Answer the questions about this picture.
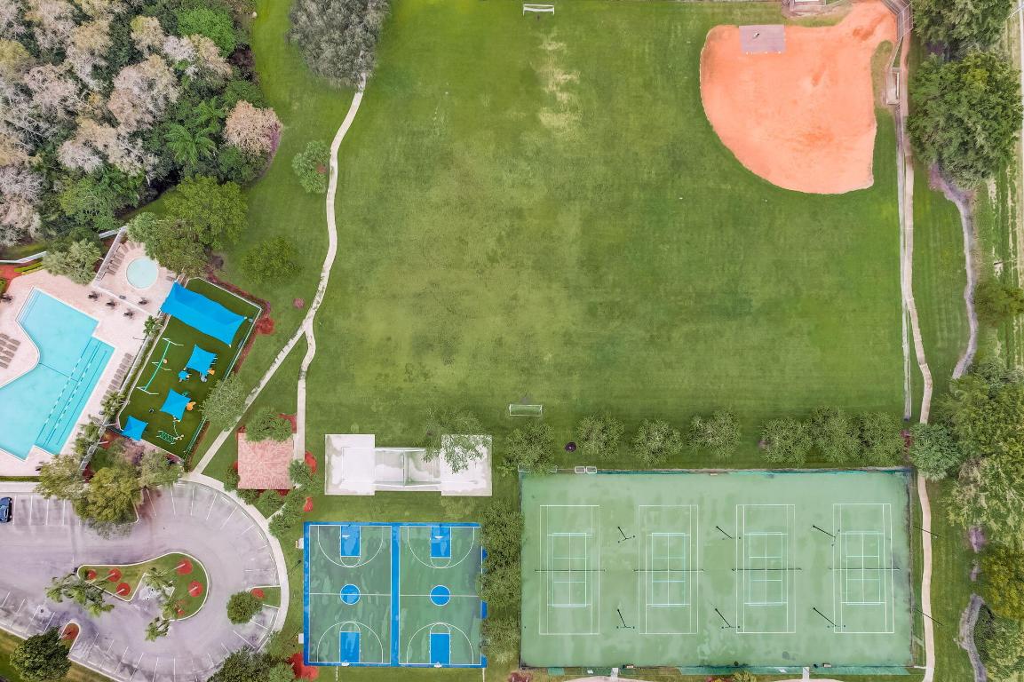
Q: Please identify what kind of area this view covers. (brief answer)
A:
sports ground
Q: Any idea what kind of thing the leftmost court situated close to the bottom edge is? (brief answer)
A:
basketball court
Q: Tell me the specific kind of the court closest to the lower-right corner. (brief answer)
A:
tennis court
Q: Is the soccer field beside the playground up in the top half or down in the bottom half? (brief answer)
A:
top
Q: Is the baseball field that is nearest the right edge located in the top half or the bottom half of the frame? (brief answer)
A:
top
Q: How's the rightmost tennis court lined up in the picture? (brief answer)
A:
from top to bottom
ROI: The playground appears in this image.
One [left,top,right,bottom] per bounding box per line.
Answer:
[117,277,260,460]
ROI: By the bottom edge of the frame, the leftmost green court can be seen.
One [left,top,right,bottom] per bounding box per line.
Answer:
[309,525,391,663]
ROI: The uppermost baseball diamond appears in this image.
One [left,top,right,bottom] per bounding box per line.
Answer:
[699,0,898,195]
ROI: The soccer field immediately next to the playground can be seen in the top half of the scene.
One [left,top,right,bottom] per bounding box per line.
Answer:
[339,7,857,416]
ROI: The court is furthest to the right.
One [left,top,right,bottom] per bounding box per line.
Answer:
[827,493,901,644]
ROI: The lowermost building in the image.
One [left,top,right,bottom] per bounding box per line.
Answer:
[238,434,295,489]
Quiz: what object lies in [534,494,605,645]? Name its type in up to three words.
tennis court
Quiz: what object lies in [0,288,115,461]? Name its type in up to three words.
swimming pool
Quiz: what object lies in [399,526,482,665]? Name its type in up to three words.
basketball court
